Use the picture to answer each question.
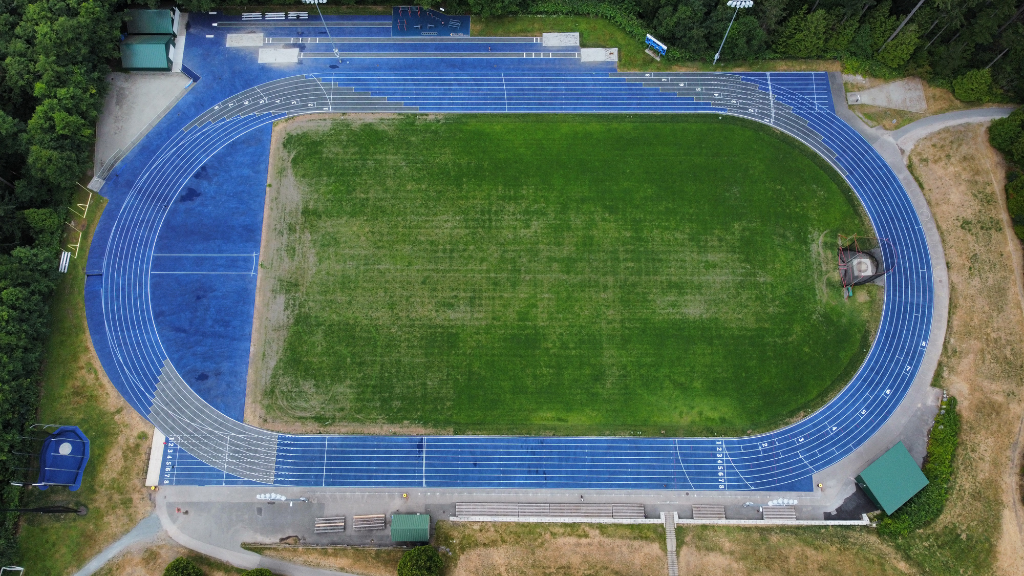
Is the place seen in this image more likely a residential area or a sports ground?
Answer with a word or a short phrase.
sports ground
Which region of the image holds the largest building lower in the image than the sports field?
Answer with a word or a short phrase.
bottom right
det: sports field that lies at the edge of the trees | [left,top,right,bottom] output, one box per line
[243,114,882,435]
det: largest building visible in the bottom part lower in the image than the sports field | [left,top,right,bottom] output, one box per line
[854,441,929,515]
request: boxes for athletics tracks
[85,12,935,492]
